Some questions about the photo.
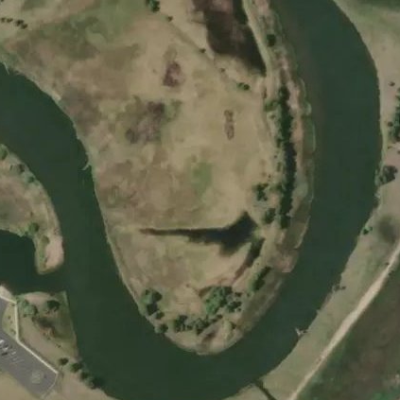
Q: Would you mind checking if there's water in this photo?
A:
Yes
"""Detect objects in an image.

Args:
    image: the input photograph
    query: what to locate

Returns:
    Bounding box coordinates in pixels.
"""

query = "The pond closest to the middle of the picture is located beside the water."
[136,213,257,254]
